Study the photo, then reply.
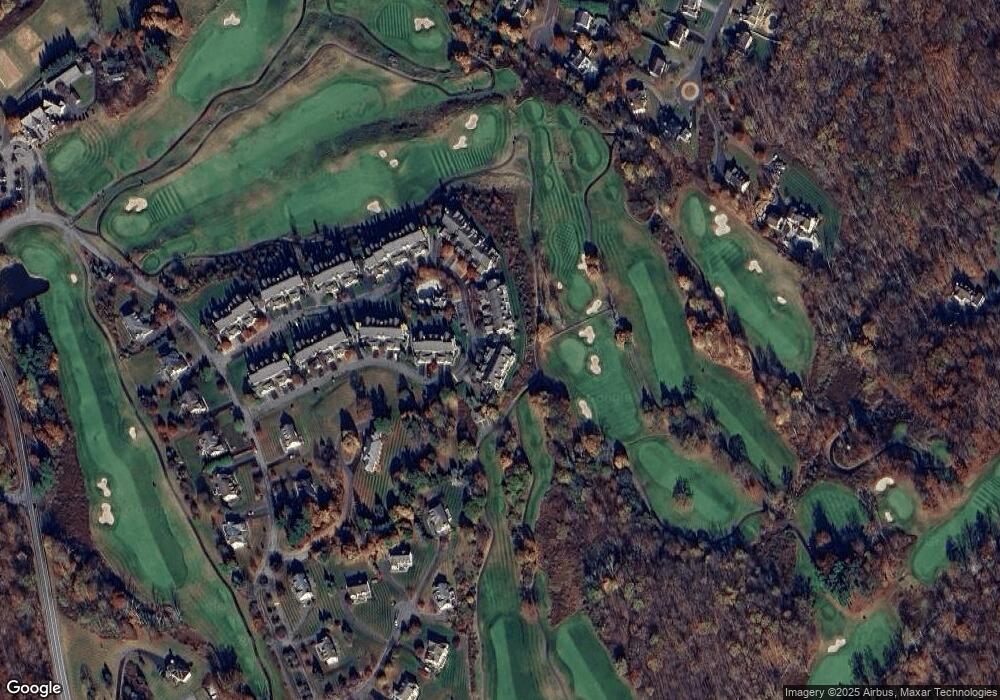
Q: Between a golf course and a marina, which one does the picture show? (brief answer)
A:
golf course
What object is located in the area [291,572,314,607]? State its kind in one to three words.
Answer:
house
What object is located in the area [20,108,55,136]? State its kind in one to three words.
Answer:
building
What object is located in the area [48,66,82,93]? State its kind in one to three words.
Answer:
barn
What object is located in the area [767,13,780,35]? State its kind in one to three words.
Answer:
swimming pool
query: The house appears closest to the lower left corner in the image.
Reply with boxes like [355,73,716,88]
[165,662,194,681]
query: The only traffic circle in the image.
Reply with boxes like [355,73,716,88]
[674,76,705,105]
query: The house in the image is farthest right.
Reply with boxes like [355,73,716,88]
[951,282,986,309]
